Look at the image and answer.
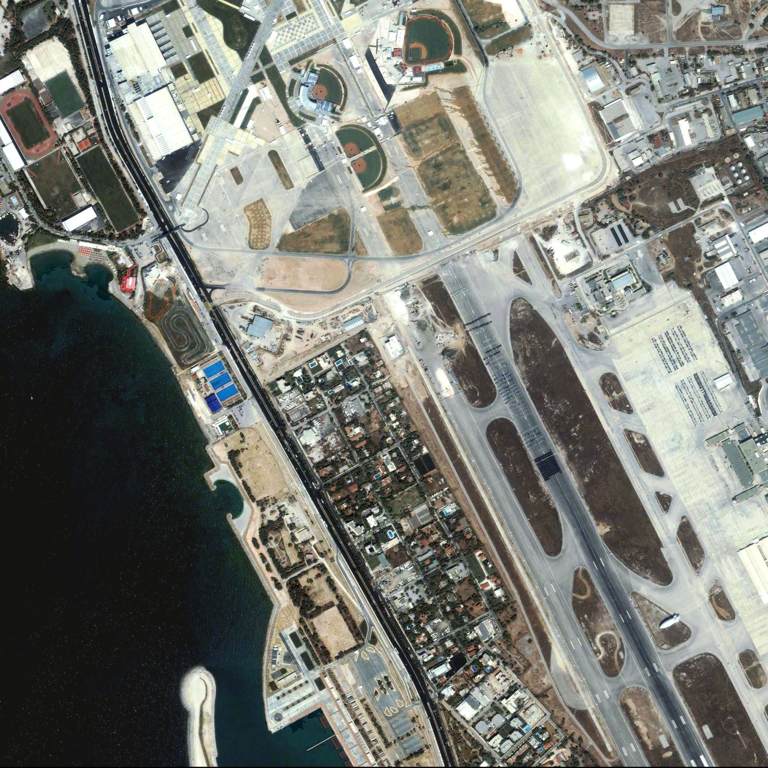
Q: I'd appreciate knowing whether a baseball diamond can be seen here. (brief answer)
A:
Yes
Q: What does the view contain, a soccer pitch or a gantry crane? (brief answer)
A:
soccer pitch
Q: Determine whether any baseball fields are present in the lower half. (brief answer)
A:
No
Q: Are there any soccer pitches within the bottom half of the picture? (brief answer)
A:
No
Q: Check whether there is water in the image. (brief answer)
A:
Yes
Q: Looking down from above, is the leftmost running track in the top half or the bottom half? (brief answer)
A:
top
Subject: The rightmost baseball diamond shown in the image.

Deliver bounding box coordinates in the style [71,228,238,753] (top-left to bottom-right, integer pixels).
[404,15,455,67]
